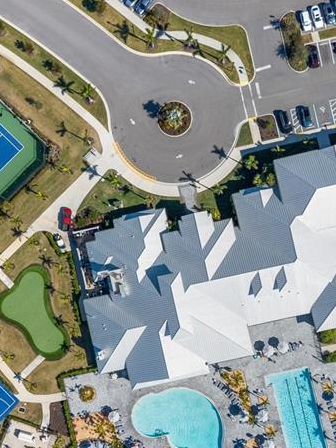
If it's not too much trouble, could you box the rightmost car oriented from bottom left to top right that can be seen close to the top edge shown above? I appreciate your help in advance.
[134,0,153,18]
